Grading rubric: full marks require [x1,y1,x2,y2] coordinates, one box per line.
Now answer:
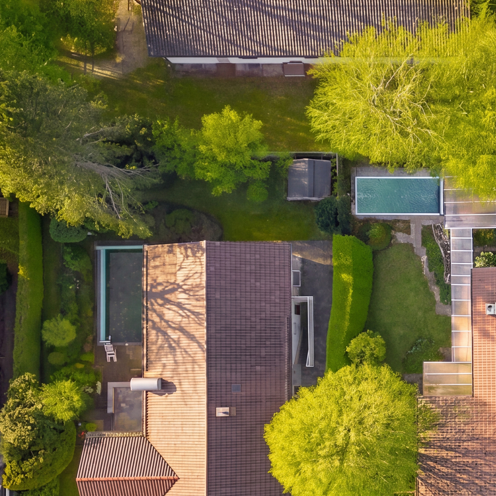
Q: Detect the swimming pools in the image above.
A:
[354,174,444,216]
[92,245,142,345]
